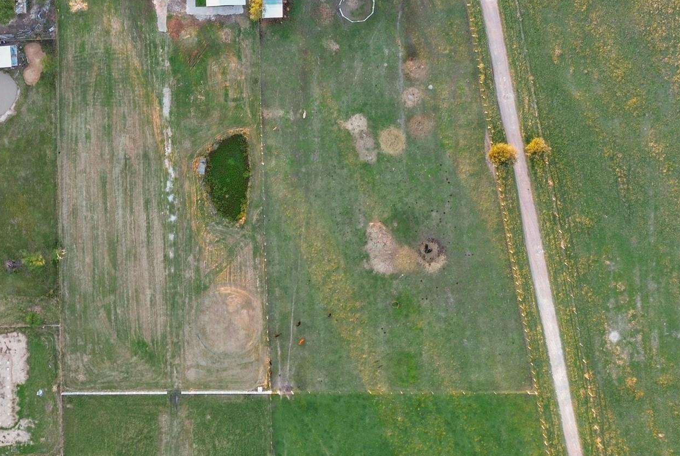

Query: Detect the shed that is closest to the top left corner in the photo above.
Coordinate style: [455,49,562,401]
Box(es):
[0,45,19,68]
